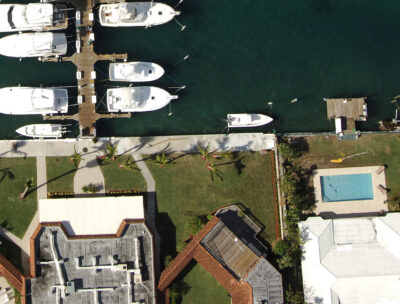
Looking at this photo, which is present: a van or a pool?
pool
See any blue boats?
No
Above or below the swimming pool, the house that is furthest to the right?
below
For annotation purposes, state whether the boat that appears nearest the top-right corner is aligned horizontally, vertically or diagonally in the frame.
horizontally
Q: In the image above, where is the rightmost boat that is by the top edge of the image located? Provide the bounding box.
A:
[96,0,183,29]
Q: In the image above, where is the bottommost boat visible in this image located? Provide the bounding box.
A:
[7,123,67,137]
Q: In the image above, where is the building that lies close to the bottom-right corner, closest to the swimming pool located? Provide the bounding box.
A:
[297,213,400,304]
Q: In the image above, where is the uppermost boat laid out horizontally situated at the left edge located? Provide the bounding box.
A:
[0,0,78,34]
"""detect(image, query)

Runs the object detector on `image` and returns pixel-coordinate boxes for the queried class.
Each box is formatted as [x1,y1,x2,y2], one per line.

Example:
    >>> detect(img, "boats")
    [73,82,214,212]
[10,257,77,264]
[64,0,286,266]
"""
[0,27,72,58]
[0,81,82,116]
[99,61,179,84]
[7,123,67,137]
[96,85,184,113]
[223,103,274,128]
[0,0,78,34]
[96,0,183,29]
